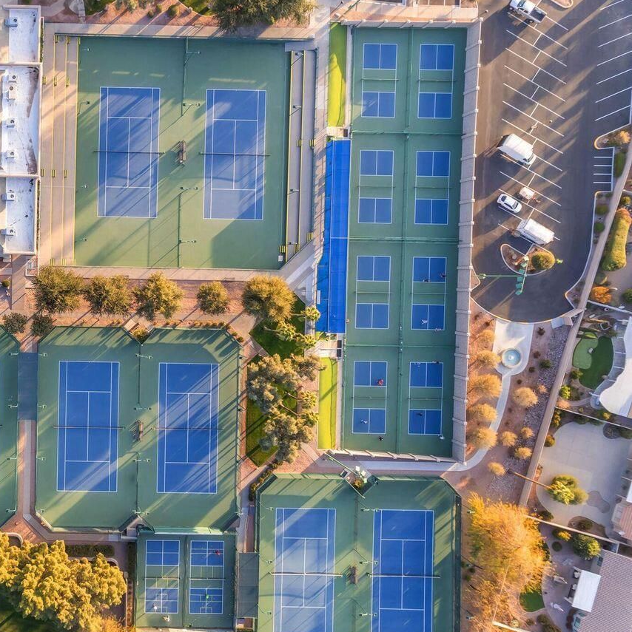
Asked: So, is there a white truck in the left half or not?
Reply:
No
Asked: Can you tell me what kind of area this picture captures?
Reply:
sports ground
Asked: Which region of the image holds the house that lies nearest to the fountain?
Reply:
right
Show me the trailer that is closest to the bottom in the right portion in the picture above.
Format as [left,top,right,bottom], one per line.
[509,218,553,244]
